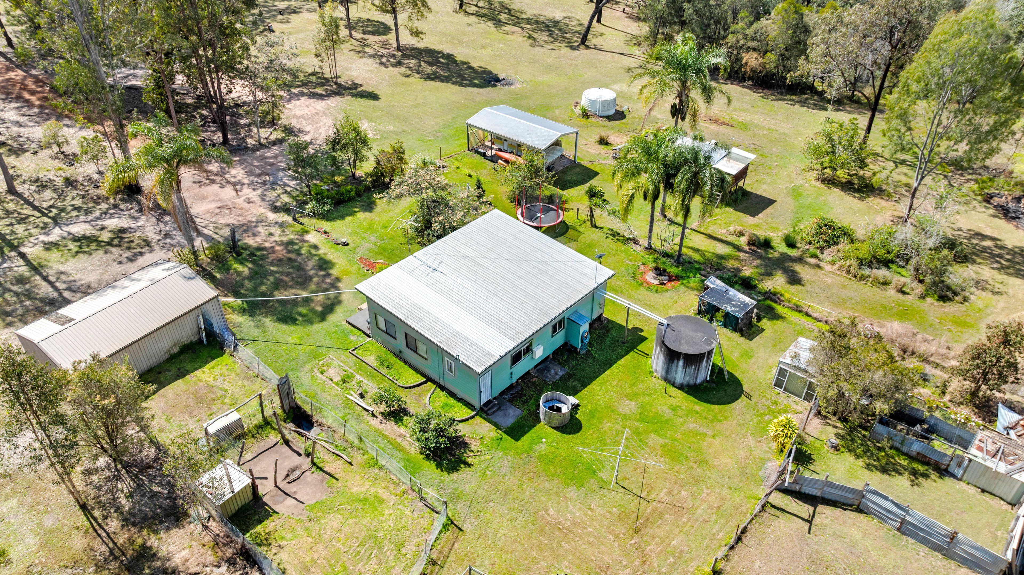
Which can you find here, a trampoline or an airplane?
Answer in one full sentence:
Visible in the photo is a trampoline.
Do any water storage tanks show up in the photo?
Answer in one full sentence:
Yes, there's a water storage tank down there.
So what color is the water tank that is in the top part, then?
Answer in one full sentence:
The water tank that is in the top part is white.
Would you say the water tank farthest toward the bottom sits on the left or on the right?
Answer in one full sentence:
It is on the right.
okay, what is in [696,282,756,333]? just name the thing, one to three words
house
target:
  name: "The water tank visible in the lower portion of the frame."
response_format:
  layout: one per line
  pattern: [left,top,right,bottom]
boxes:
[649,318,720,393]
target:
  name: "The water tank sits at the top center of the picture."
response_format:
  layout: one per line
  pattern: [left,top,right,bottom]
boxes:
[580,88,617,122]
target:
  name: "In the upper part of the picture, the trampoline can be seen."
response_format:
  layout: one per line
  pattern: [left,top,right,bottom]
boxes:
[516,182,565,234]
